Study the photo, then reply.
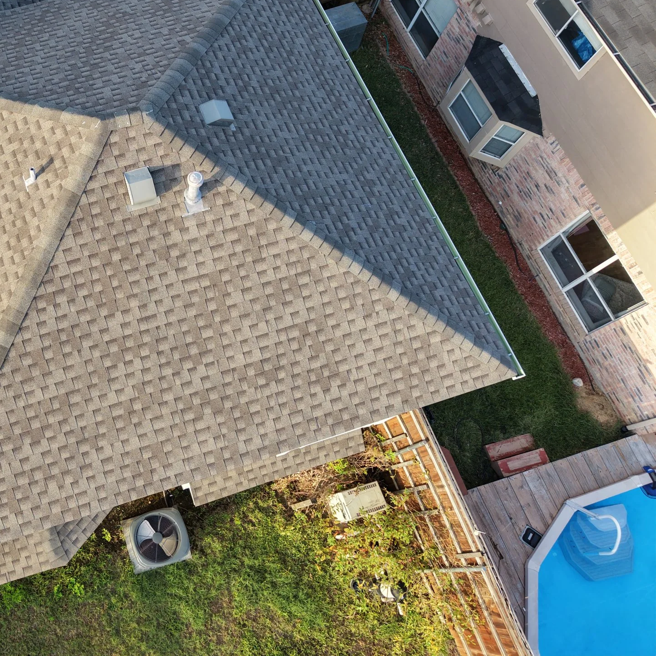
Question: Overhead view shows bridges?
No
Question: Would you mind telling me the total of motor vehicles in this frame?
zero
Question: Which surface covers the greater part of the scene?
buildings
